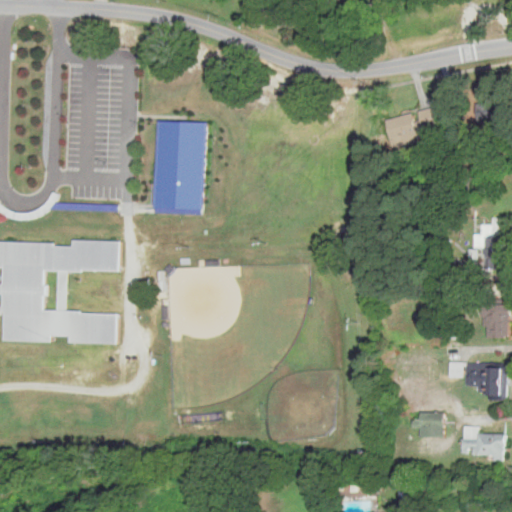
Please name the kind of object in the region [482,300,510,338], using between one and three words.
house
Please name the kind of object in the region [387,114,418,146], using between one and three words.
house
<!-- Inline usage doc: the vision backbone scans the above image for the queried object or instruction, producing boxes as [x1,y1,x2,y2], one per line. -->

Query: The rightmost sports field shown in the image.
[267,372,338,441]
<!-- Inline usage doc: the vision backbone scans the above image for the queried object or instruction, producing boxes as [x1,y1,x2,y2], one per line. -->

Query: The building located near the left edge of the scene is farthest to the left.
[0,240,122,345]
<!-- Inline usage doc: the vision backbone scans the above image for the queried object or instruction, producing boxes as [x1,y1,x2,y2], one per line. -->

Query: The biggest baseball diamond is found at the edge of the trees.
[170,264,312,409]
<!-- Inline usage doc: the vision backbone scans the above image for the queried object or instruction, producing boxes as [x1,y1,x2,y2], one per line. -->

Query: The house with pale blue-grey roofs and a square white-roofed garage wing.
[461,426,508,462]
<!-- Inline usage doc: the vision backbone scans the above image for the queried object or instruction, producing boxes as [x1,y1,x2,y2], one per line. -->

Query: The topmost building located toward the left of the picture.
[154,121,210,214]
